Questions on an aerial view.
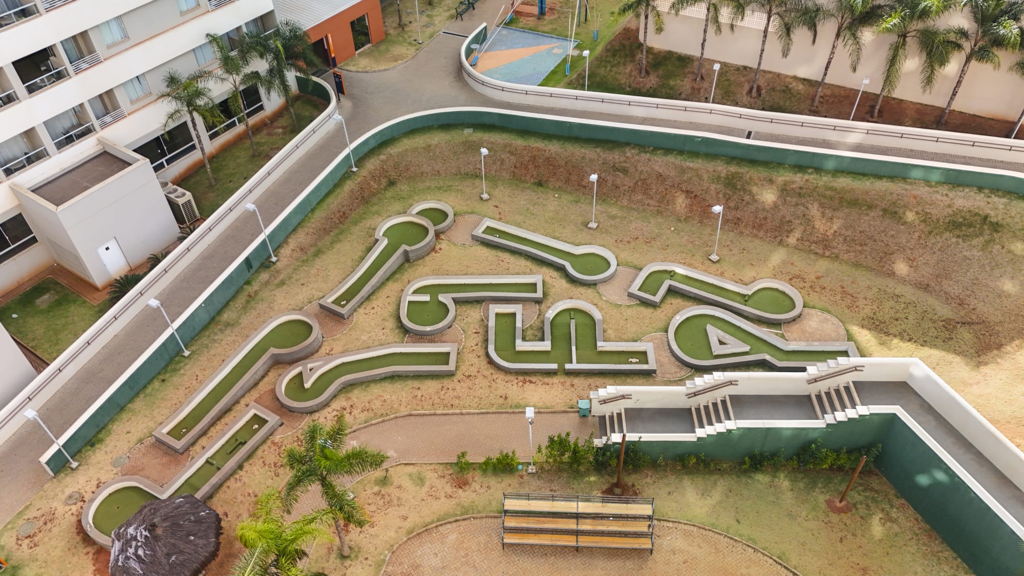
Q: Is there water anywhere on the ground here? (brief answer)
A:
No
